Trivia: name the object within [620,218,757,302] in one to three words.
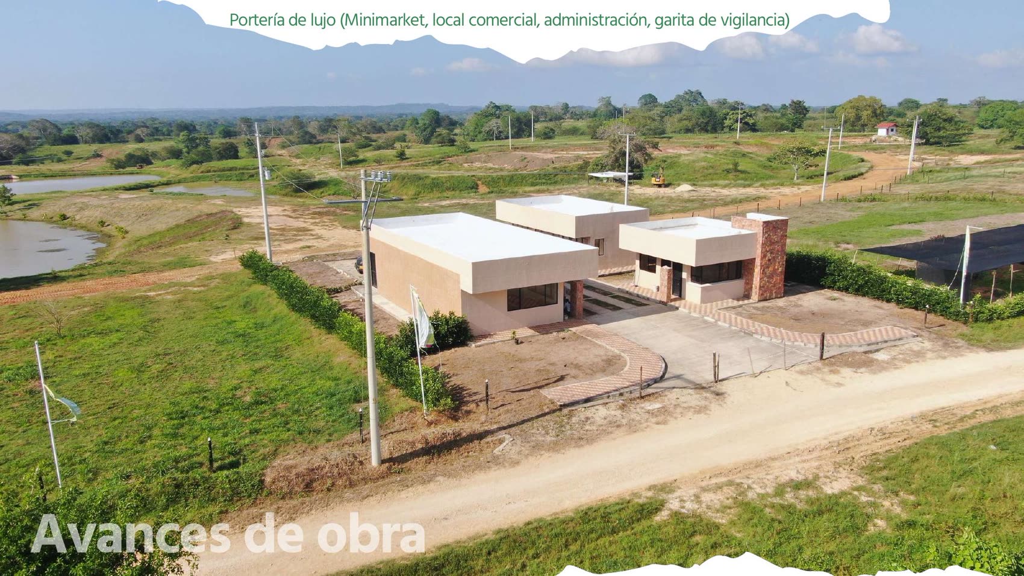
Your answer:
building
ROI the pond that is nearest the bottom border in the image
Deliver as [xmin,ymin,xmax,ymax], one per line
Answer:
[0,220,108,278]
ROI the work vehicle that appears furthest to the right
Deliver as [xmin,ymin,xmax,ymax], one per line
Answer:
[651,164,666,189]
